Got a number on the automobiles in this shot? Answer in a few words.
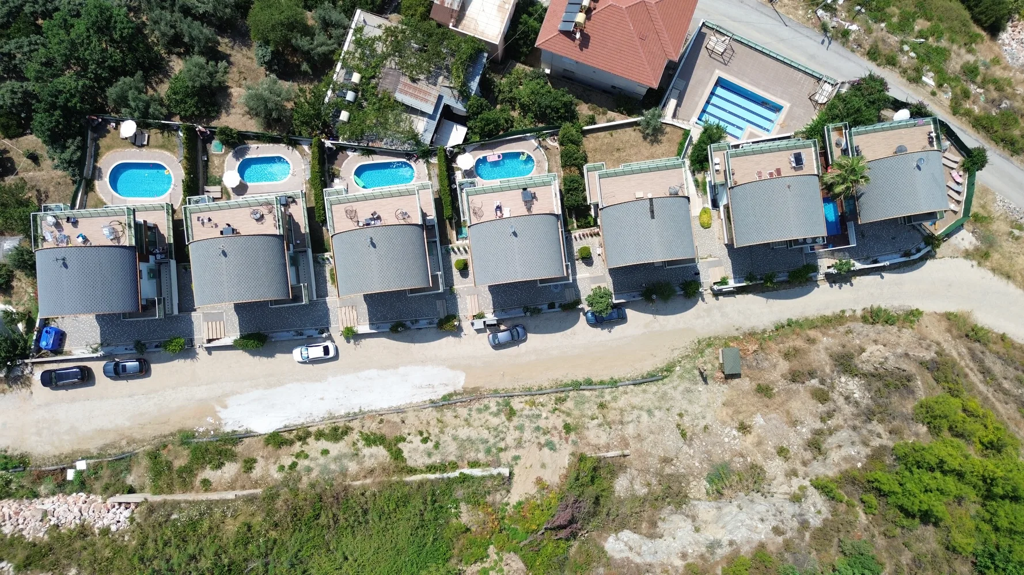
5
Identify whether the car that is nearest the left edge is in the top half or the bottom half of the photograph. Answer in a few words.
bottom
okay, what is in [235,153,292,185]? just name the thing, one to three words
swimming pool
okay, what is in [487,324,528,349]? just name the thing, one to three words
car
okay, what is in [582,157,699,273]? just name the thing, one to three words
house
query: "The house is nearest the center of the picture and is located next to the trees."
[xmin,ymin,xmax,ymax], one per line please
[456,172,573,290]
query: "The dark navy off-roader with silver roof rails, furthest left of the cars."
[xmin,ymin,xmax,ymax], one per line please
[41,365,90,389]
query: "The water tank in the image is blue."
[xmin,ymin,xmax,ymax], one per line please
[37,326,70,351]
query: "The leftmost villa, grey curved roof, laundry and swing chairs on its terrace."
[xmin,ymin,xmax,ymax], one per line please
[31,202,189,323]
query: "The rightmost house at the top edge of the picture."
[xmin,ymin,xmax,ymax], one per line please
[534,0,697,106]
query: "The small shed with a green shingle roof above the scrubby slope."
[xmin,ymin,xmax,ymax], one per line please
[716,347,742,376]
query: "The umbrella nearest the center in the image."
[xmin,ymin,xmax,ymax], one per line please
[454,151,478,174]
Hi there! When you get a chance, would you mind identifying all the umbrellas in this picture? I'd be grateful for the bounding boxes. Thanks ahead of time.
[888,108,910,124]
[454,151,478,174]
[118,120,141,140]
[222,169,245,190]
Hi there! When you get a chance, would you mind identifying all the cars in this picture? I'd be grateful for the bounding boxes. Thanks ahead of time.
[584,304,628,327]
[41,365,90,389]
[104,358,151,379]
[293,341,338,364]
[487,324,528,349]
